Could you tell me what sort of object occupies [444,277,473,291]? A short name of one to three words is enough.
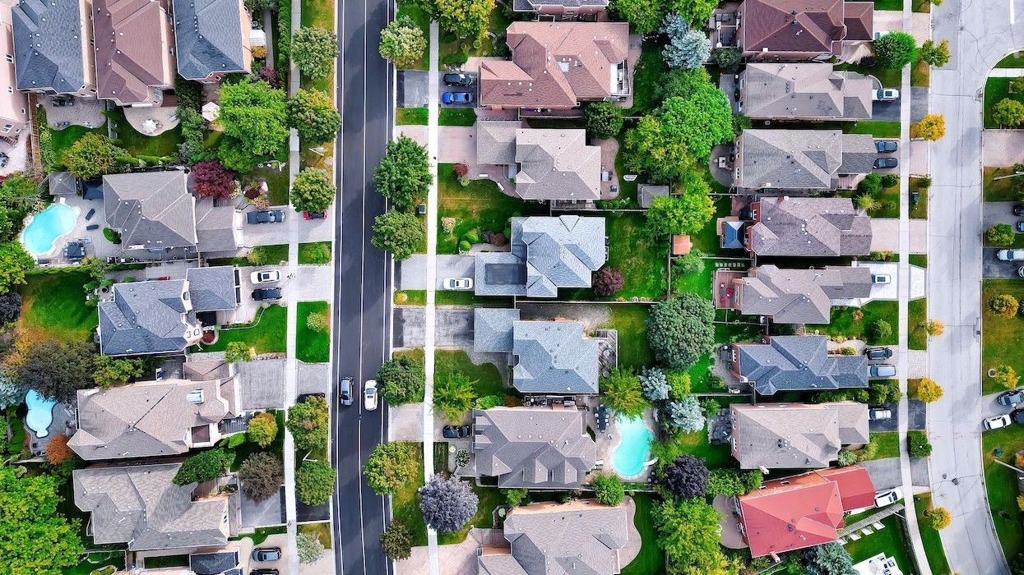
car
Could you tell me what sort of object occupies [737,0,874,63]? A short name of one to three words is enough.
house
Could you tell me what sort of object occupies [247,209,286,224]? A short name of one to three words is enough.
vehicle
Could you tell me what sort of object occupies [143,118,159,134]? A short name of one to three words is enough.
umbrella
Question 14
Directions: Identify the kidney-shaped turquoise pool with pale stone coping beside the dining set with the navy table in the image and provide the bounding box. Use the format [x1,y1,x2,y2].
[19,199,80,256]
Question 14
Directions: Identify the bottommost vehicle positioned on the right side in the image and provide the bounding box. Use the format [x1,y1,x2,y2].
[874,488,902,506]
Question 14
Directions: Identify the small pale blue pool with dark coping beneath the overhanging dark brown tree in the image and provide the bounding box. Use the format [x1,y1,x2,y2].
[24,390,55,438]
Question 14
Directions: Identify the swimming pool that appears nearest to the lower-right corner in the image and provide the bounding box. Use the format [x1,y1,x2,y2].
[611,411,655,480]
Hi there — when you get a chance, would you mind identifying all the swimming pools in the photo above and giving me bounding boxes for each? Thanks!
[24,390,55,438]
[611,411,655,480]
[19,199,80,256]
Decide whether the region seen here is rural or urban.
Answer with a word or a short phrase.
urban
